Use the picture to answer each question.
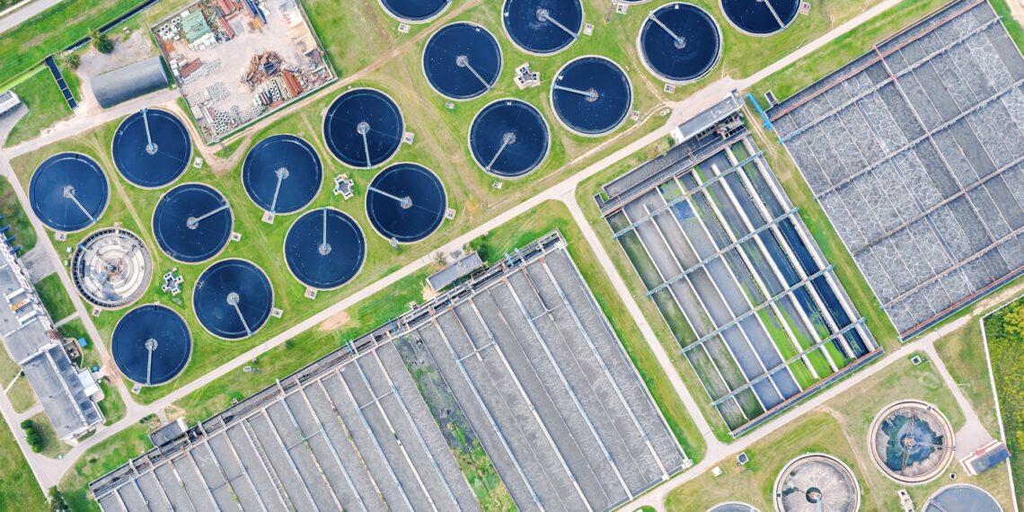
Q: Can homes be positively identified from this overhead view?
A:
Yes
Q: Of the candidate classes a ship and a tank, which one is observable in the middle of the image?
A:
tank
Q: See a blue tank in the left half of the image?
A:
Yes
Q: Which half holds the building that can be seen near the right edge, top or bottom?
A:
bottom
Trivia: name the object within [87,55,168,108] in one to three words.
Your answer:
building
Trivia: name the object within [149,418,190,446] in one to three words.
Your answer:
building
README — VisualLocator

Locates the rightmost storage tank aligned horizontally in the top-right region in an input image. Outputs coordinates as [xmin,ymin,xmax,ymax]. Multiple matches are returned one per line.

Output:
[719,0,801,36]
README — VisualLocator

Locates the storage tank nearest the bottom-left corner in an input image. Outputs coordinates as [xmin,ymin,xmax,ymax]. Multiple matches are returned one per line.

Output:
[111,304,193,388]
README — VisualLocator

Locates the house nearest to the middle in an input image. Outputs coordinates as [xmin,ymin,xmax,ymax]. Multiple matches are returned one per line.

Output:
[428,252,483,291]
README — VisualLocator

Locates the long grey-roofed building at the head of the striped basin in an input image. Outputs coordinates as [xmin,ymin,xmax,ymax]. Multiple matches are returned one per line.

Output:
[668,89,745,146]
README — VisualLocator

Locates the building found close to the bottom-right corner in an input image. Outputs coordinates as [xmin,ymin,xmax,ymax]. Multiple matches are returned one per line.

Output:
[956,436,1011,475]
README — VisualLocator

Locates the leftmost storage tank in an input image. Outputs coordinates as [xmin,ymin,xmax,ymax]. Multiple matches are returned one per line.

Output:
[29,151,111,233]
